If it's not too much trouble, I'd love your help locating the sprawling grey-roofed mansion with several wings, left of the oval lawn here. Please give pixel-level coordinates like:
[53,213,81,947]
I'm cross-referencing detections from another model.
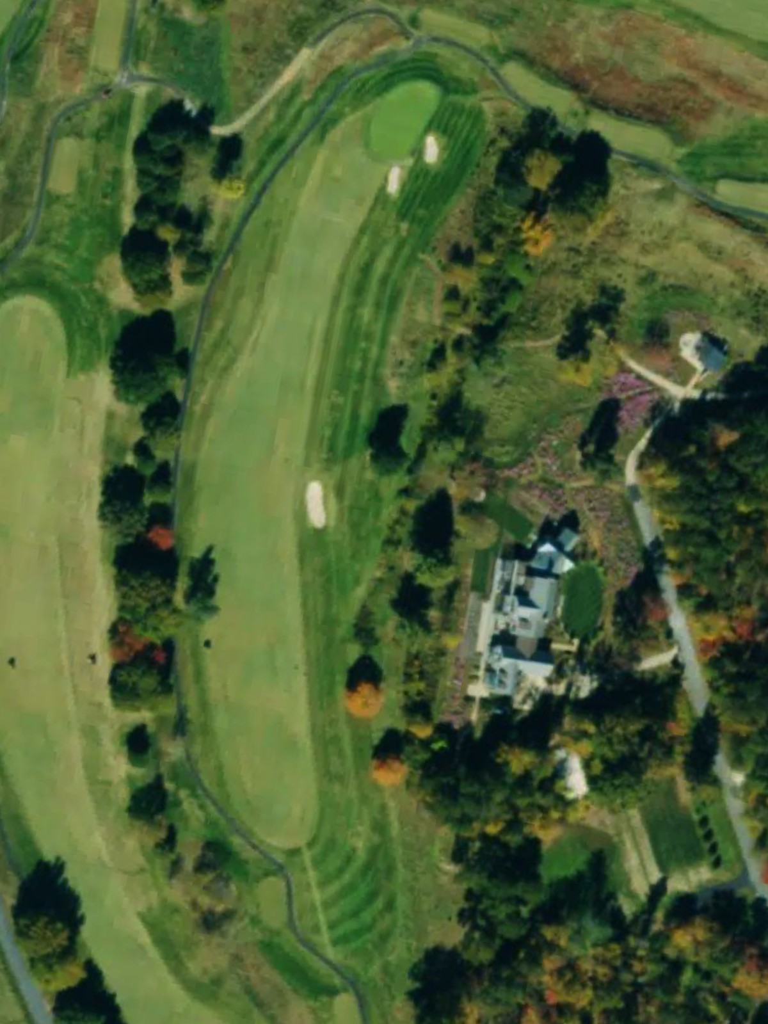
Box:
[484,542,572,697]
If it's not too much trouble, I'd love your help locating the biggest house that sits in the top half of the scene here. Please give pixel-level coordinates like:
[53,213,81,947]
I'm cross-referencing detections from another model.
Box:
[698,332,728,376]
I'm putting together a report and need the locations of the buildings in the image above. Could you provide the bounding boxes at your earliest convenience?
[484,542,572,697]
[557,528,580,553]
[698,332,728,376]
